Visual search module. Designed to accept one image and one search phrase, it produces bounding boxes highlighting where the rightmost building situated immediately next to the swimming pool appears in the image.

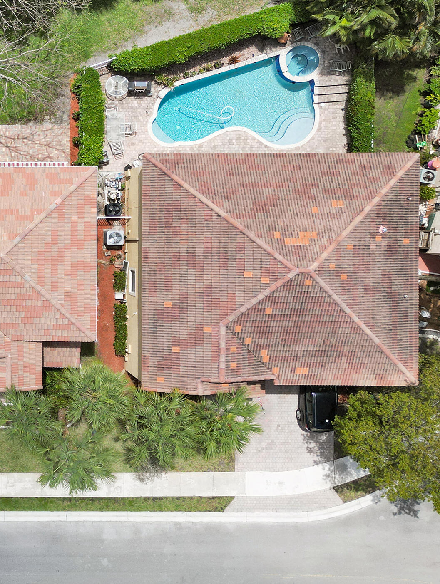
[125,151,421,396]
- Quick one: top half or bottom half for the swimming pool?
top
